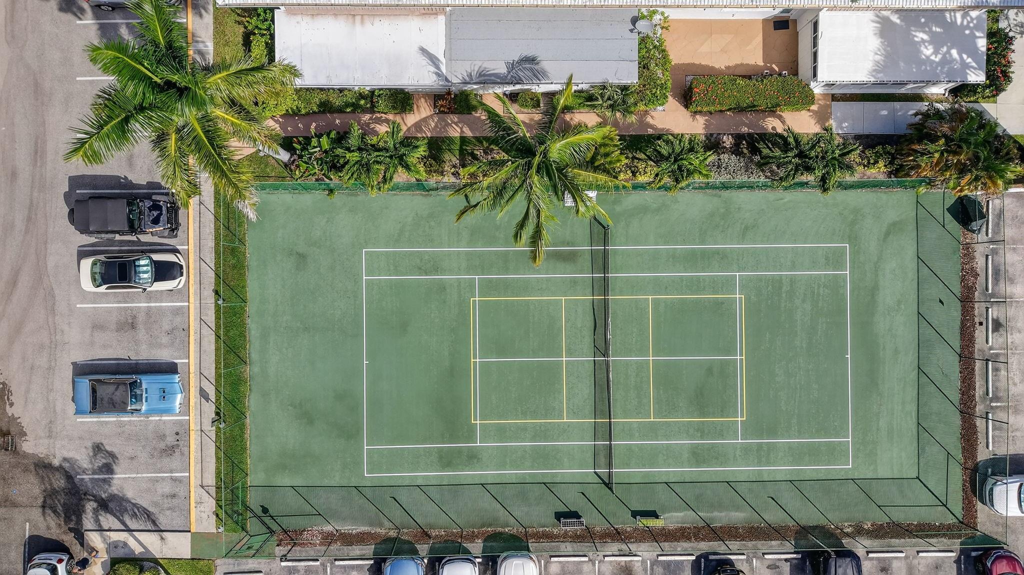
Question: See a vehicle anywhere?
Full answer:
Yes, this view includes a vehicle.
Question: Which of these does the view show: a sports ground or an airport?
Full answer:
This looks like a sports ground.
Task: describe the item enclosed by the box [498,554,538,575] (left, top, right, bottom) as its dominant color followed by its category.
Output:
white car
